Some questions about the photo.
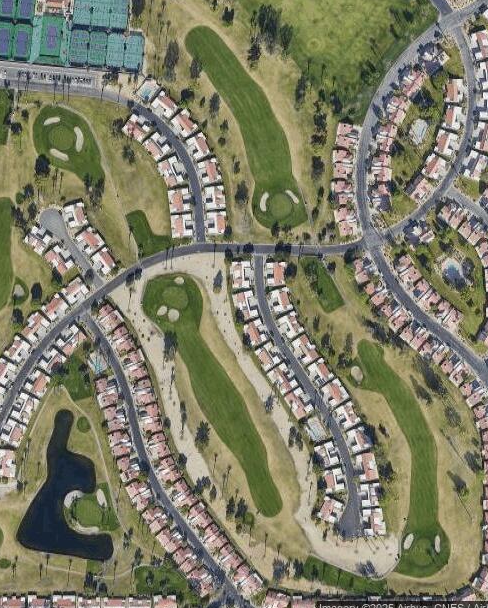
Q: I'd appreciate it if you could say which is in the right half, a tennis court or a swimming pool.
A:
swimming pool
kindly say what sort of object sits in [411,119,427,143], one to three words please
swimming pool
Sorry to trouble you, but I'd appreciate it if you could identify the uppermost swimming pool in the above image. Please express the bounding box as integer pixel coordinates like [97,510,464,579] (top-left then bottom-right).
[137,79,160,102]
